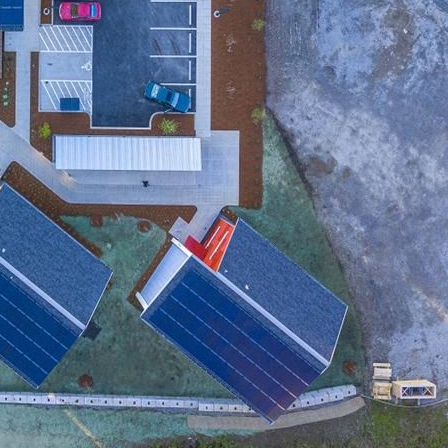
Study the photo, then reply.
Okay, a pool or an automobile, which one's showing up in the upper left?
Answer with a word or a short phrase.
automobile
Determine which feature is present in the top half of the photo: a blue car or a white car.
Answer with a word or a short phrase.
blue car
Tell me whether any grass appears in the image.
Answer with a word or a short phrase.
Yes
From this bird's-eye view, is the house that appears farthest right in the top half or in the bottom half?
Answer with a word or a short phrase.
bottom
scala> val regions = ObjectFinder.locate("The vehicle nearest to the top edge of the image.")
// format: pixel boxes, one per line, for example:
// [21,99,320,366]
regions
[60,0,102,21]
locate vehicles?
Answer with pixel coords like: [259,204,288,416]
[60,0,102,21]
[146,80,195,114]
